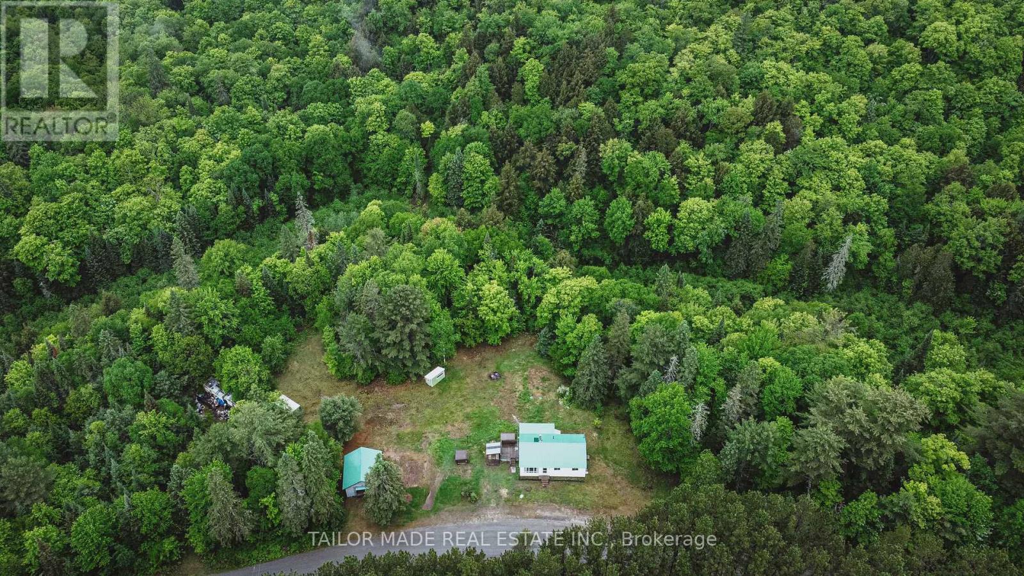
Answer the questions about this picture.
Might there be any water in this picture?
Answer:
No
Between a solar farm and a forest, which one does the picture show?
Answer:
forest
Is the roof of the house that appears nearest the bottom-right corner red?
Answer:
No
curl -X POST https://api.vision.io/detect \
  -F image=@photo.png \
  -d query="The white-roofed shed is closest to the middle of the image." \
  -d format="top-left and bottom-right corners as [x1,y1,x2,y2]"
[424,365,445,388]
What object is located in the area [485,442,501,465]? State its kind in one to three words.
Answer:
shed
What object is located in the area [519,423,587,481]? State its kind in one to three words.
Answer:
house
